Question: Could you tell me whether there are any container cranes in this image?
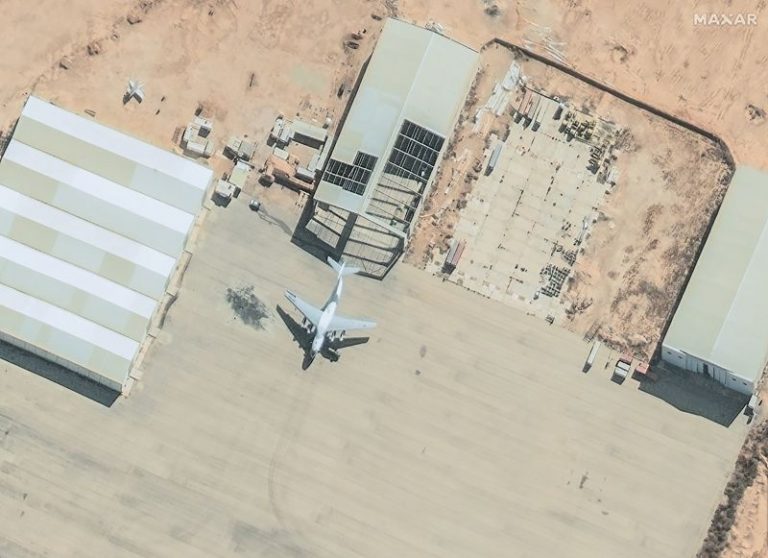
No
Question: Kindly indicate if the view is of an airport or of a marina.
airport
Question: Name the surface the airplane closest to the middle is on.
apron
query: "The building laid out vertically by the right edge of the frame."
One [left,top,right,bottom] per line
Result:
[663,164,768,396]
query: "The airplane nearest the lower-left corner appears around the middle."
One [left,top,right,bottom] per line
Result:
[286,256,377,362]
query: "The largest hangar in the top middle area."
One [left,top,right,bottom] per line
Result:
[314,17,479,249]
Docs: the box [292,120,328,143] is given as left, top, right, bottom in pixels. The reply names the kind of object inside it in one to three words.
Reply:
shed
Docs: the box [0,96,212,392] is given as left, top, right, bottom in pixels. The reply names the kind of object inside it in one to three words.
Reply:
hangar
